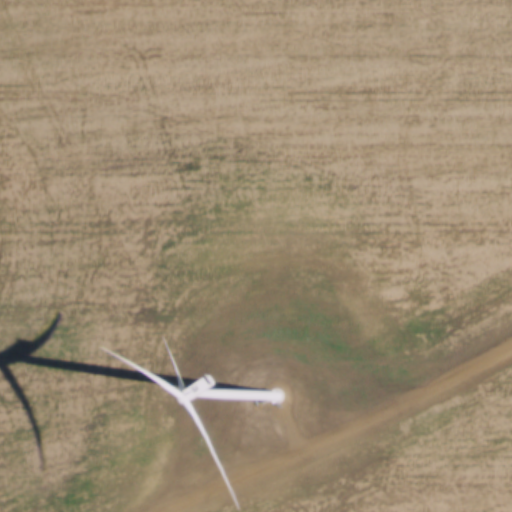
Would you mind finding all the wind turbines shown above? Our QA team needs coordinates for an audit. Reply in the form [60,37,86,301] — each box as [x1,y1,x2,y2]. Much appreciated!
[102,336,285,508]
